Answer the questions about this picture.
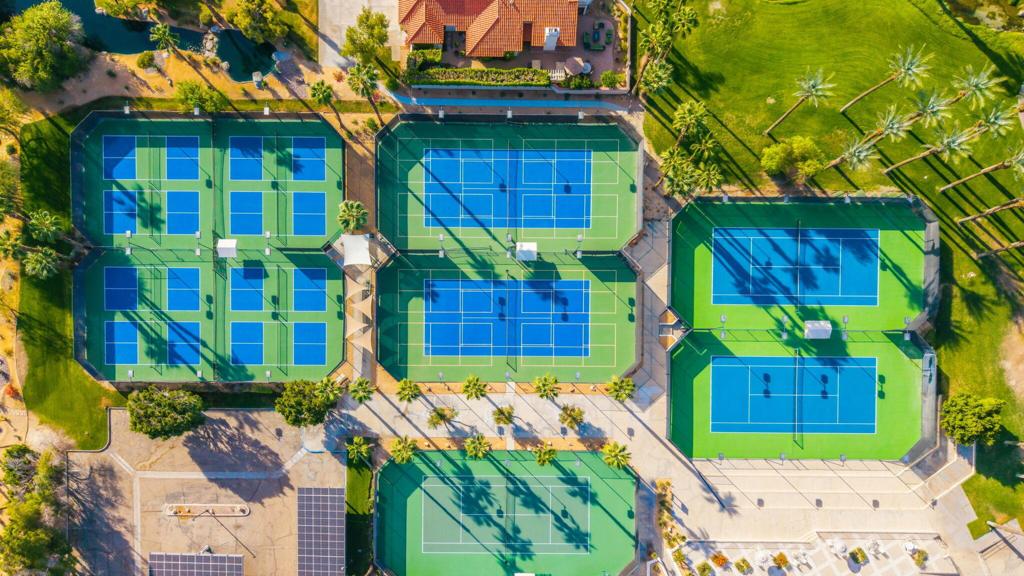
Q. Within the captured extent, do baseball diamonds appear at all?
No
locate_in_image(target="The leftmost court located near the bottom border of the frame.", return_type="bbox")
[377,449,636,576]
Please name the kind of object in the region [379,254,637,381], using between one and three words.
tennis court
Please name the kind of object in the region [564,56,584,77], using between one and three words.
umbrella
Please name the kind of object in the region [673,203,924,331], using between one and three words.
tennis court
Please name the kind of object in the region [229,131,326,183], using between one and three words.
sports court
